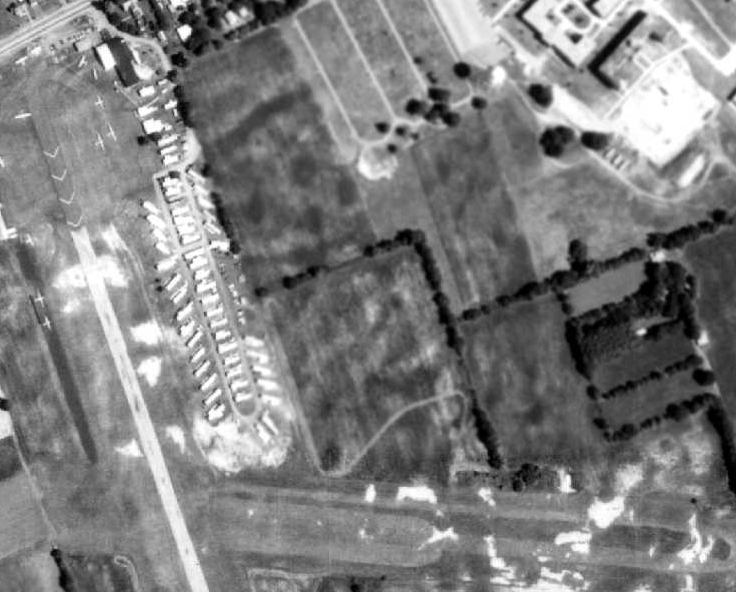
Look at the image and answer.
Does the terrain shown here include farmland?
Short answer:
Yes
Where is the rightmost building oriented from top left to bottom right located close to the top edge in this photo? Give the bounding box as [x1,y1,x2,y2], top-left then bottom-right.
[522,0,597,68]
